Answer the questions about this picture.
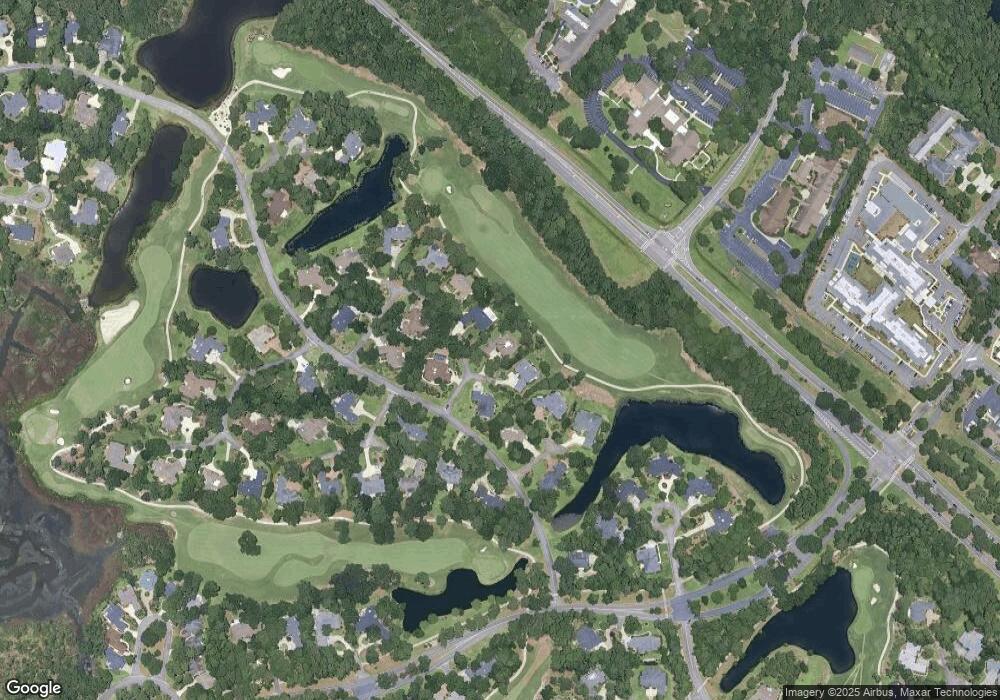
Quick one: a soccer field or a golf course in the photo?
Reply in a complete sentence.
Looking from above, you can make out a golf course.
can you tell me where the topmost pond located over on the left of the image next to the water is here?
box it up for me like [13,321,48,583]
[137,0,292,107]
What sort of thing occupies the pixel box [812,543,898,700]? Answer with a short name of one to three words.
golf course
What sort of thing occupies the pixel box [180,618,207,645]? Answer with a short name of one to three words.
house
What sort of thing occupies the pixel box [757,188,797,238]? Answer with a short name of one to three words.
building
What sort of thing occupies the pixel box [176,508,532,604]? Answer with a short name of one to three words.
golf course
